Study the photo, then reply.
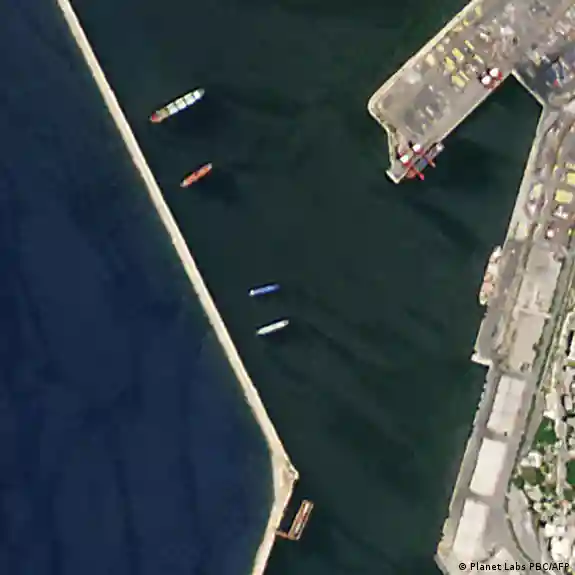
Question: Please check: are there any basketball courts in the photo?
No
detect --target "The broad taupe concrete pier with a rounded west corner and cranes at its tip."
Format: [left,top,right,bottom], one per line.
[366,15,510,184]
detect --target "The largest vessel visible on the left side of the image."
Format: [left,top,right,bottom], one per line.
[149,90,205,122]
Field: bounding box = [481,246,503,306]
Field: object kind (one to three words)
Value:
ship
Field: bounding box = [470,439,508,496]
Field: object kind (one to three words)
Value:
building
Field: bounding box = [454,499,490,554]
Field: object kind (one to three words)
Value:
building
